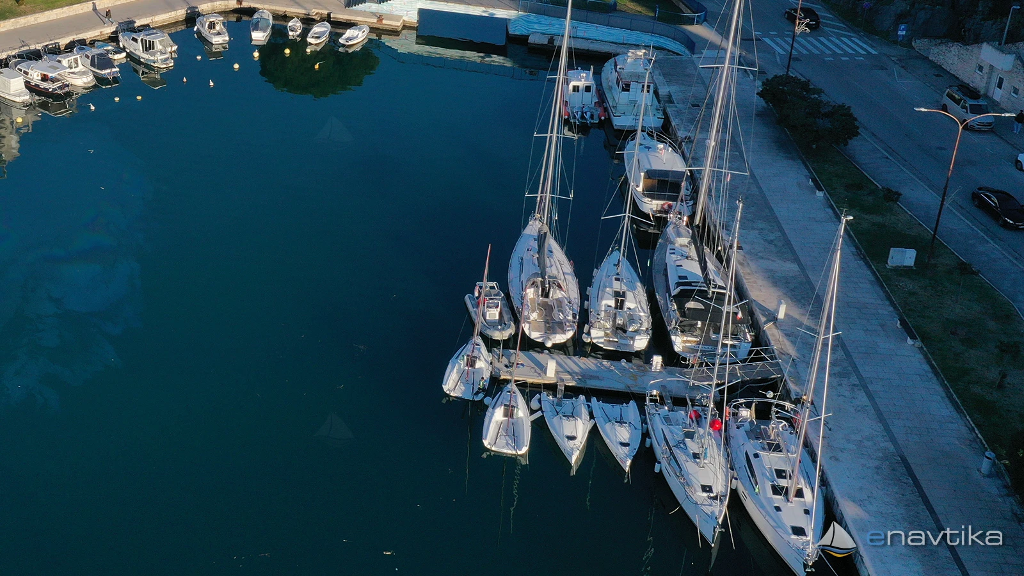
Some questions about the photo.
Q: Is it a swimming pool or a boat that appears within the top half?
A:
boat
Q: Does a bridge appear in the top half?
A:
No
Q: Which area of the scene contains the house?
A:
top right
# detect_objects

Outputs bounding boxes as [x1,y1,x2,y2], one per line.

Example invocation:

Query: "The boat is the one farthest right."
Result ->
[727,191,854,576]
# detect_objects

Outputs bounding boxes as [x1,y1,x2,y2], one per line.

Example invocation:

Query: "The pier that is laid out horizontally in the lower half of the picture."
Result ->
[493,351,729,406]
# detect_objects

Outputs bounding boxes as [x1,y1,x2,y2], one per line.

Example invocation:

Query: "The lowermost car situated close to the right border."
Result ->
[973,186,1024,229]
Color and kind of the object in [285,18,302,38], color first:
white boat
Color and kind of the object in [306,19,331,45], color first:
white boat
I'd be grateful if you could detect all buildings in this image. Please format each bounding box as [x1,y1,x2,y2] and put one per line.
[948,21,1024,115]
